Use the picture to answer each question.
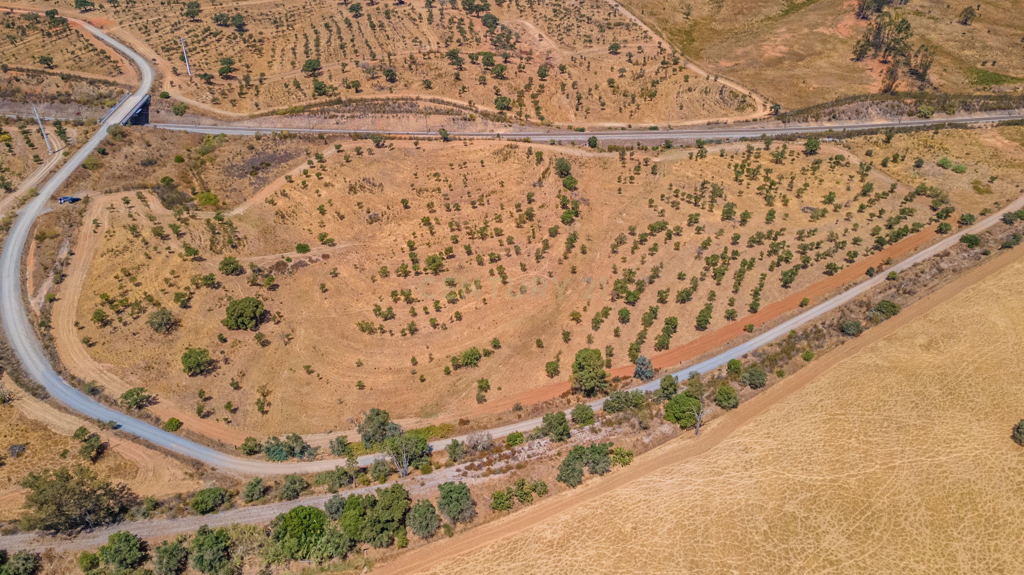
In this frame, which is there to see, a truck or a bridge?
bridge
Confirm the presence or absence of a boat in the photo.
No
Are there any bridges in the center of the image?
No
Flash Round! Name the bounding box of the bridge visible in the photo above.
[100,94,149,126]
